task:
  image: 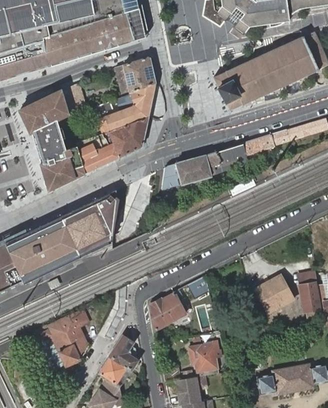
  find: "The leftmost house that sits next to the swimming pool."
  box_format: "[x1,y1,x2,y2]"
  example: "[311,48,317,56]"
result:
[148,292,188,332]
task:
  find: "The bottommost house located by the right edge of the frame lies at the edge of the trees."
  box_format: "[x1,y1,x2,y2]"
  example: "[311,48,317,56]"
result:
[260,364,328,396]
